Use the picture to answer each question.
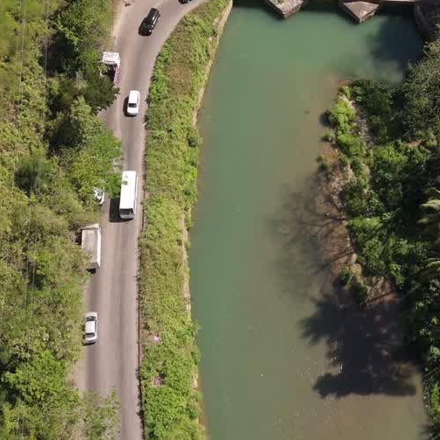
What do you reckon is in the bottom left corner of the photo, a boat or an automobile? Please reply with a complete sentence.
The one visible in the bottom left corner of the photo is an automobile.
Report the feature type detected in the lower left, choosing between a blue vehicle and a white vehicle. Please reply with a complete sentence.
Looking in the lower left, you will find a white vehicle.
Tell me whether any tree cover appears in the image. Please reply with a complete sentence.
Yes, some tree cover is visible.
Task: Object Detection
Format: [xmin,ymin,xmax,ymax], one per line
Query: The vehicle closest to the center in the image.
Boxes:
[117,174,141,223]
